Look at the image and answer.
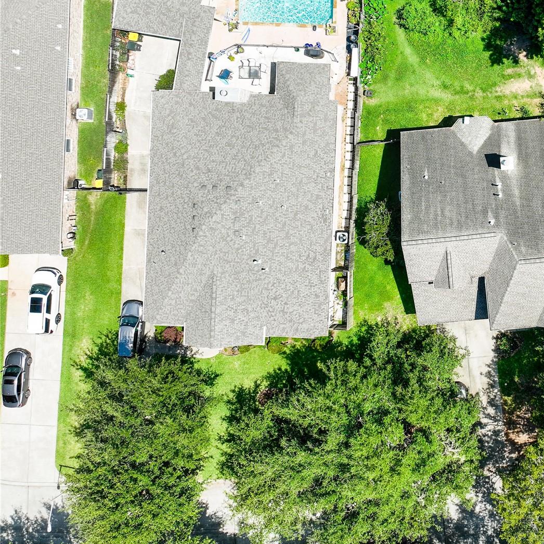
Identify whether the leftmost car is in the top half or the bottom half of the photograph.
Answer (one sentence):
You can find the leftmost car in the bottom half.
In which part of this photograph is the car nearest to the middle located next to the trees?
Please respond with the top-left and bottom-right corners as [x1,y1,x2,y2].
[114,295,149,360]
